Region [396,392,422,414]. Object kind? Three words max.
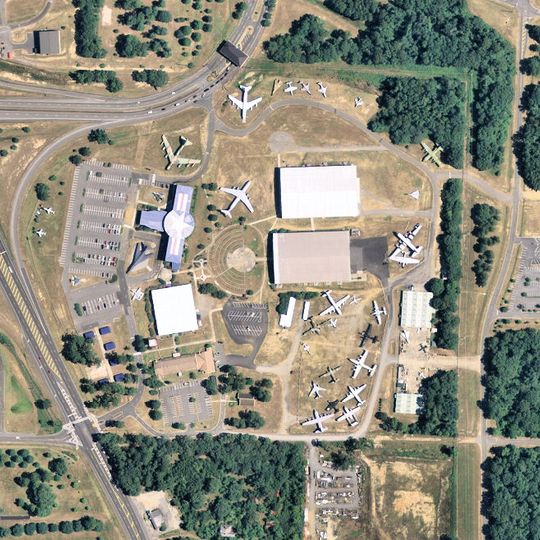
building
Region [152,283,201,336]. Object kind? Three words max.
building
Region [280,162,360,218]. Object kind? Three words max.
hangar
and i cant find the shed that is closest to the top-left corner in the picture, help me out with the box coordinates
[38,30,59,54]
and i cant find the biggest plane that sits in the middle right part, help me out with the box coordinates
[391,224,423,258]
